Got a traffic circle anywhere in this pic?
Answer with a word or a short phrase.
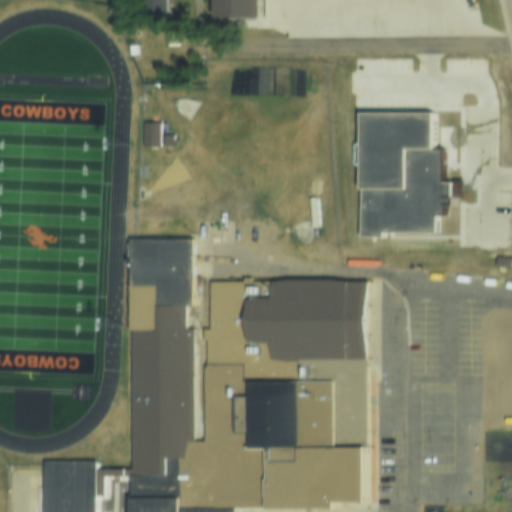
No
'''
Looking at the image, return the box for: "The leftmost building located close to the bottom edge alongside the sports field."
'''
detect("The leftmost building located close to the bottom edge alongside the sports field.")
[40,460,102,512]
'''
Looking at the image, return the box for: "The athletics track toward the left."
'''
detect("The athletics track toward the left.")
[0,9,132,453]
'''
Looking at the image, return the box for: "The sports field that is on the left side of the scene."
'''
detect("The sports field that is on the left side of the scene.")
[0,25,116,436]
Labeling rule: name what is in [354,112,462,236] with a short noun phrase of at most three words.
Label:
building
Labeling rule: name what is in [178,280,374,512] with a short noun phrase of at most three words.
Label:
building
